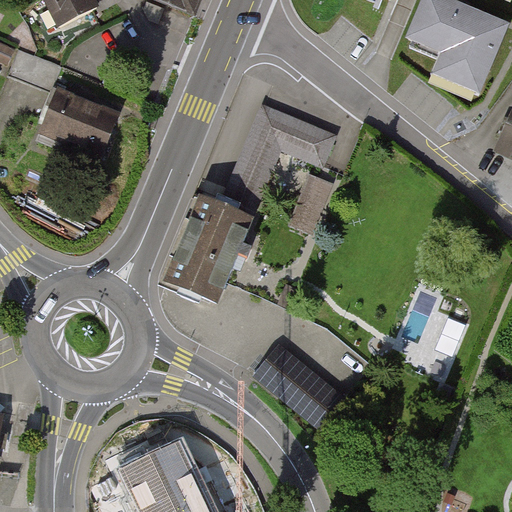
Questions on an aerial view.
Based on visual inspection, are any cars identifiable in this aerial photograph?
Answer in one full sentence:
Yes, a car can be made out from above.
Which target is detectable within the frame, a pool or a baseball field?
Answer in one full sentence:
This aerial view contains a pool.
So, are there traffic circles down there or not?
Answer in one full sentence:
Yes, the picture does show a traffic circle.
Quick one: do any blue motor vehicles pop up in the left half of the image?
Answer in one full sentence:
Yes, a blue motor vehicle appears in the left half of the image.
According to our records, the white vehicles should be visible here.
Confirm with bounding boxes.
[35,295,57,320]
[341,354,364,374]
[352,36,368,60]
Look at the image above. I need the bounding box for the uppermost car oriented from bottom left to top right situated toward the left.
[86,258,110,278]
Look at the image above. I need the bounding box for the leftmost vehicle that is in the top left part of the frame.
[102,28,116,50]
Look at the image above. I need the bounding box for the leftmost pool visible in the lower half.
[402,291,437,344]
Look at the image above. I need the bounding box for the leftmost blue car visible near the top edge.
[122,18,138,38]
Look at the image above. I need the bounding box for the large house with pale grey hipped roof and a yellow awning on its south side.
[405,0,510,100]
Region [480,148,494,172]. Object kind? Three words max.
car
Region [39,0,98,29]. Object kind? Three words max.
house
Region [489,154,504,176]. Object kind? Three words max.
car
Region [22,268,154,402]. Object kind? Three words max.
roundabout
